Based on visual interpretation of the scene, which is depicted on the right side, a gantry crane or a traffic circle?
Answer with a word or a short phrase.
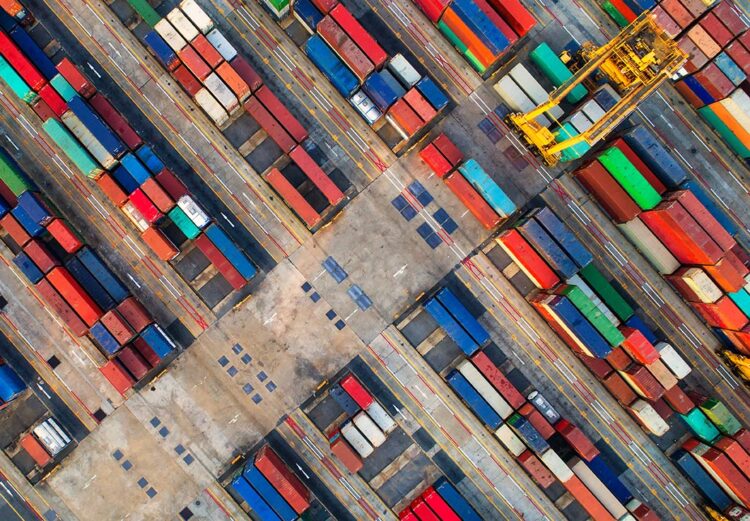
gantry crane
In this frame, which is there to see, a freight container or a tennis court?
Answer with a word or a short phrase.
freight container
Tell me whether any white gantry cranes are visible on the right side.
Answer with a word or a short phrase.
No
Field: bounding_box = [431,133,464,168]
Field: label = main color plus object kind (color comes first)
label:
red shipping container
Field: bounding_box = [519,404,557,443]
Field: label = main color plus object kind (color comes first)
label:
red shipping container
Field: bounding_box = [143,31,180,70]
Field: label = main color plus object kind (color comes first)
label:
blue shipping container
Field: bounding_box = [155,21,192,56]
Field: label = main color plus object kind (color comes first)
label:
white shipping container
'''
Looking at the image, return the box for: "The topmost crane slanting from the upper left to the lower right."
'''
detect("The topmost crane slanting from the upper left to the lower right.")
[715,346,750,390]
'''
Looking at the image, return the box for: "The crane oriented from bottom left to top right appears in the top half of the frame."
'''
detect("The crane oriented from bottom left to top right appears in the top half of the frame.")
[505,4,694,165]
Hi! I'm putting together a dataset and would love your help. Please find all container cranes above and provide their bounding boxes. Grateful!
[505,4,694,165]
[702,502,724,521]
[715,346,750,390]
